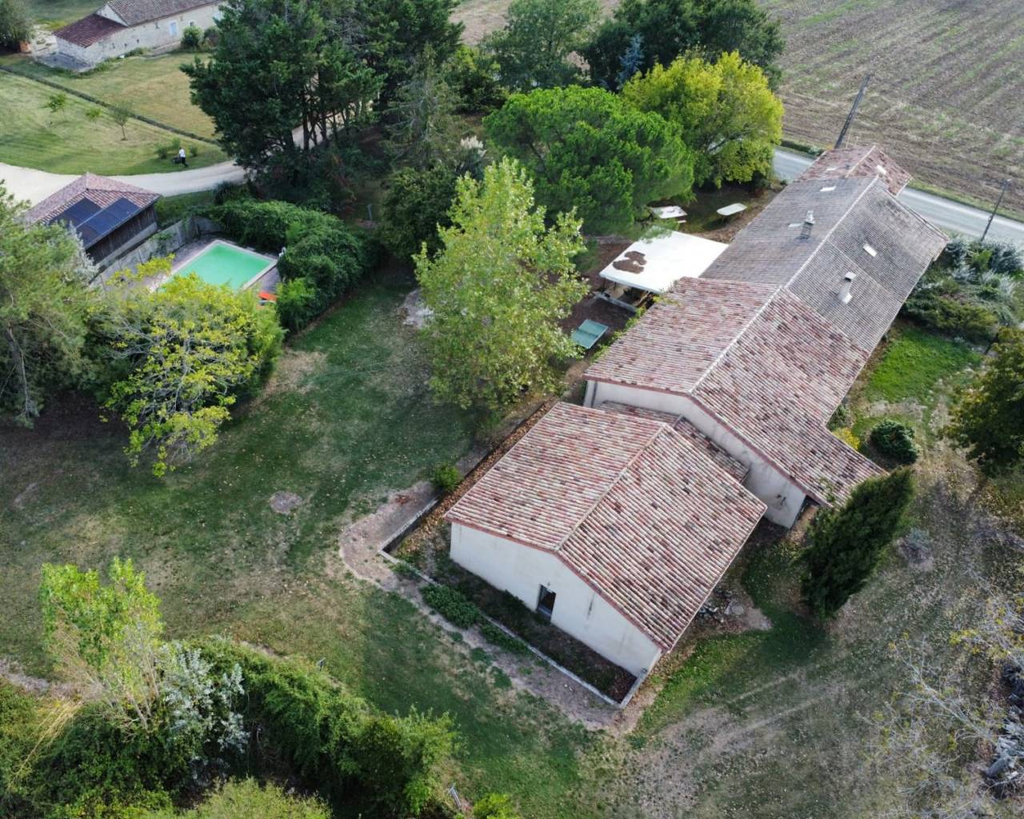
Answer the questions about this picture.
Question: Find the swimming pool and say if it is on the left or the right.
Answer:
left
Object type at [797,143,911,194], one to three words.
house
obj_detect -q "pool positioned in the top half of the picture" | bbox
[85,233,301,367]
